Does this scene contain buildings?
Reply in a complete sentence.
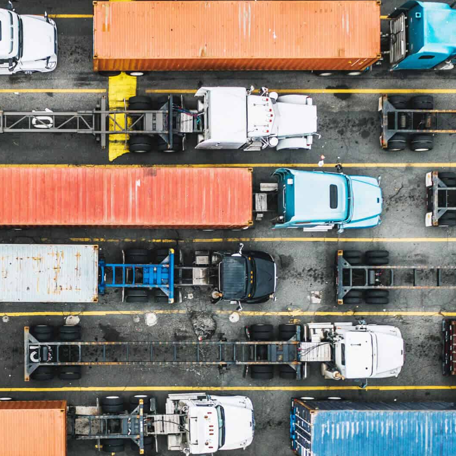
No, there's no building here.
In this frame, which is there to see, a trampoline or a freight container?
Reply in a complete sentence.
Visible in the photo is a freight container.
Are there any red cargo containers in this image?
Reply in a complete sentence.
Yes, there is a red cargo container in the image.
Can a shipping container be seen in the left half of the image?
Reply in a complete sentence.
Yes, you'll find a shipping container in the left half of the image.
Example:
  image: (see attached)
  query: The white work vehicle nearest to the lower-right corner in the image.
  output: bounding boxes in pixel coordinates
[244,318,403,388]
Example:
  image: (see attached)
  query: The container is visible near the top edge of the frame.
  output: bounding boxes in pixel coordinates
[91,1,380,70]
